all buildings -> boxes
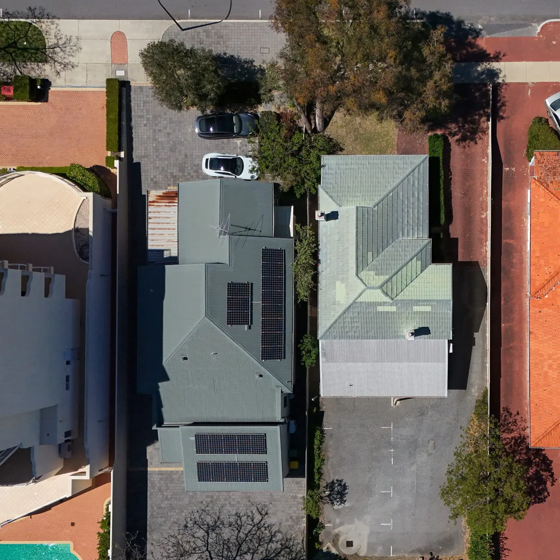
[316,154,453,397]
[0,169,111,529]
[524,150,560,449]
[136,178,297,492]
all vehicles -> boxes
[193,110,259,142]
[545,91,560,132]
[201,151,259,180]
